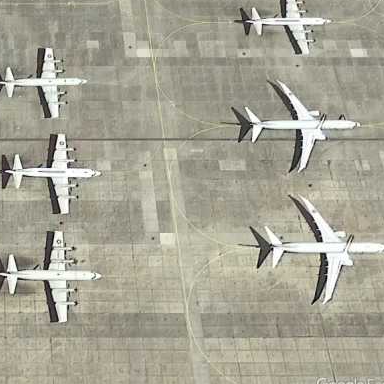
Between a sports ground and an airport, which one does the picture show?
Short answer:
airport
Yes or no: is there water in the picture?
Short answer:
No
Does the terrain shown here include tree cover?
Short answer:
No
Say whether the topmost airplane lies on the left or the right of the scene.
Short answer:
right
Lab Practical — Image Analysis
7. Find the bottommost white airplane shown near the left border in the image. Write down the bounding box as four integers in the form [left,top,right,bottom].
[0,230,101,322]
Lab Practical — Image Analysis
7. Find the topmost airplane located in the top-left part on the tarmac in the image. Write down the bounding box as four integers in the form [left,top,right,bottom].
[0,46,87,117]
